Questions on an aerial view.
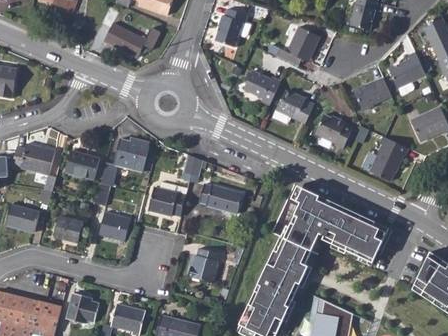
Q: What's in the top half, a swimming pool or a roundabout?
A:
roundabout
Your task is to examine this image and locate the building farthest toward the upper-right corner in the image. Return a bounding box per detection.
[422,20,448,82]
